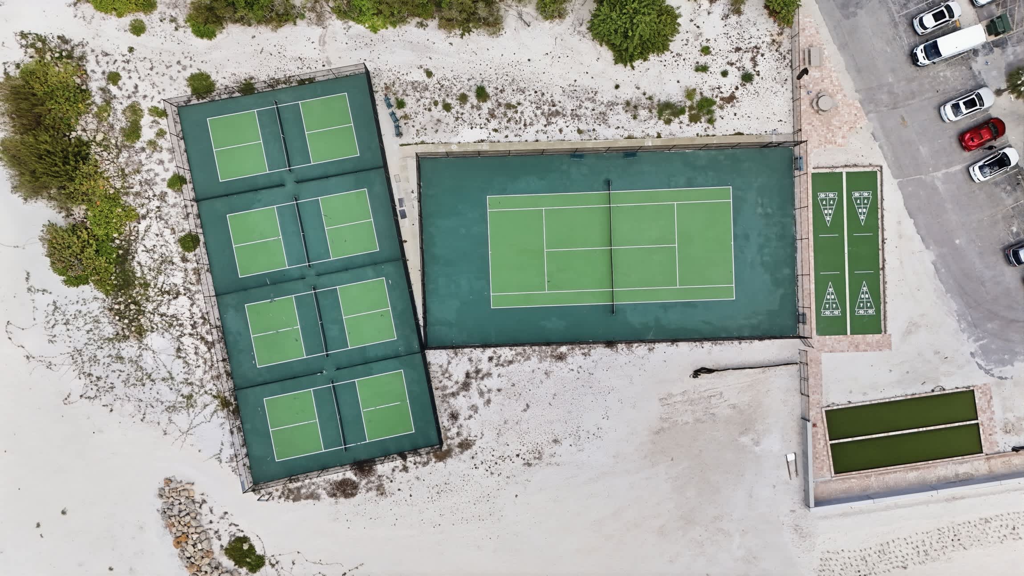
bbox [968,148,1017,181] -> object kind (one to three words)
car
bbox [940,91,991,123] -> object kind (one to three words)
car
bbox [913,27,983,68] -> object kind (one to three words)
van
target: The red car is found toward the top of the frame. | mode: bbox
[958,118,1006,151]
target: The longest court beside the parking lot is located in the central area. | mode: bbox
[419,147,799,346]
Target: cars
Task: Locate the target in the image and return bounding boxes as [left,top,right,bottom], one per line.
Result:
[970,0,990,6]
[940,91,991,123]
[913,2,961,34]
[1006,244,1024,266]
[958,118,1006,151]
[968,148,1017,181]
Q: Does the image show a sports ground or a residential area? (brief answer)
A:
sports ground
